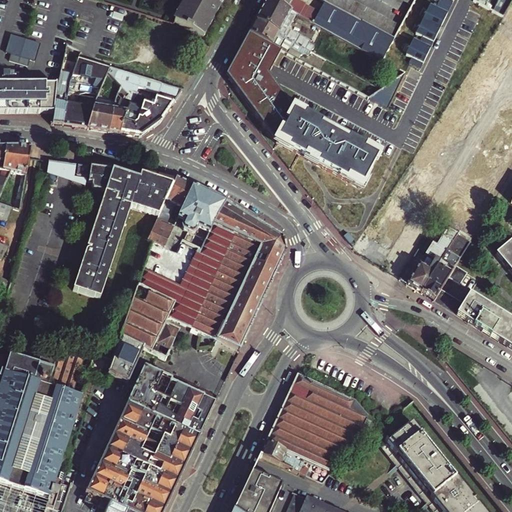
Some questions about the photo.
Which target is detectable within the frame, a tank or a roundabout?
roundabout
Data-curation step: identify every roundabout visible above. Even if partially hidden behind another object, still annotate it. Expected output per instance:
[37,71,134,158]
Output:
[276,252,372,348]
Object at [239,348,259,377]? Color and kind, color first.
white bus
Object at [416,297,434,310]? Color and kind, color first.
white vehicle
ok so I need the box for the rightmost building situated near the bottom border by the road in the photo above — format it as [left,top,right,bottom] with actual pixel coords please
[434,472,490,512]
